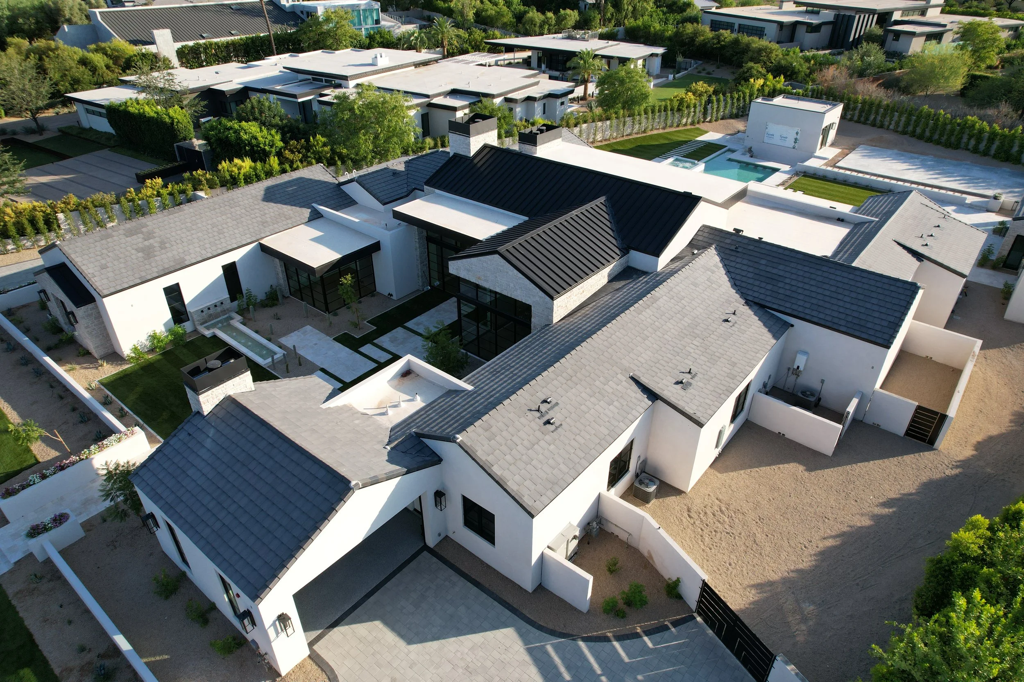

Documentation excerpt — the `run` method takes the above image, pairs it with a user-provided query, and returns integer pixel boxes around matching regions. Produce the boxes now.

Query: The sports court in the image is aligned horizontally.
[835,145,1024,202]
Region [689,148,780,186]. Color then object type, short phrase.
blue swimming pool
